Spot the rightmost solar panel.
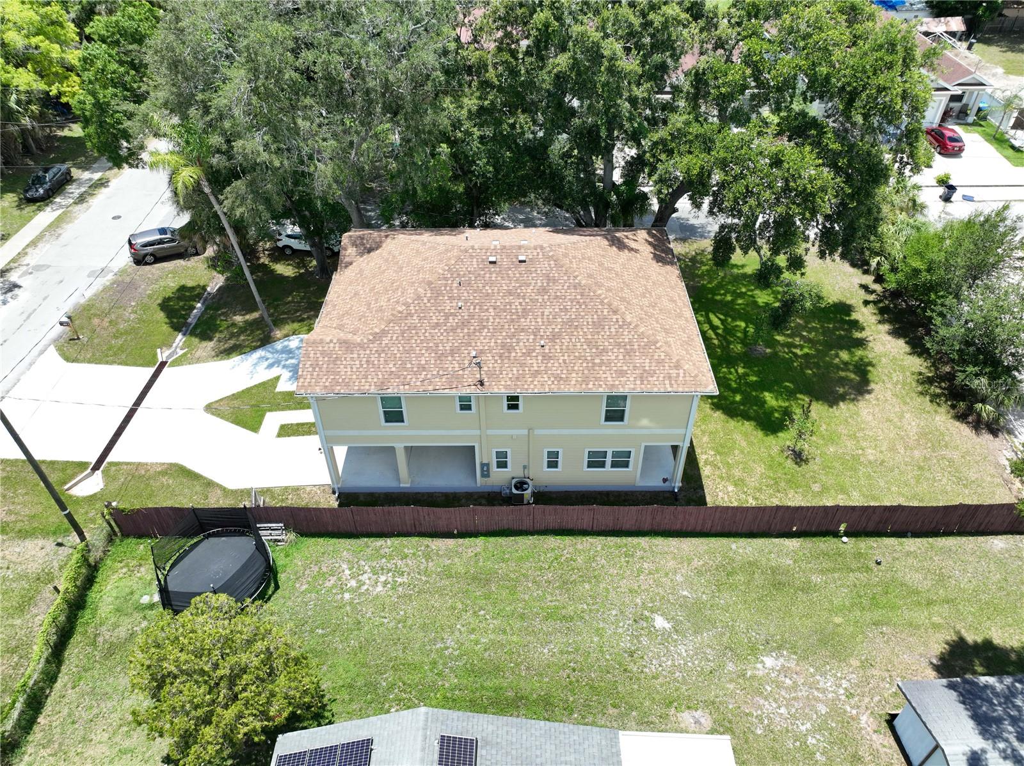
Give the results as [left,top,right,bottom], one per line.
[439,732,478,766]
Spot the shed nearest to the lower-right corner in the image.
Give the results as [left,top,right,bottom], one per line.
[887,678,1024,766]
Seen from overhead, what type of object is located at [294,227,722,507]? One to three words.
house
